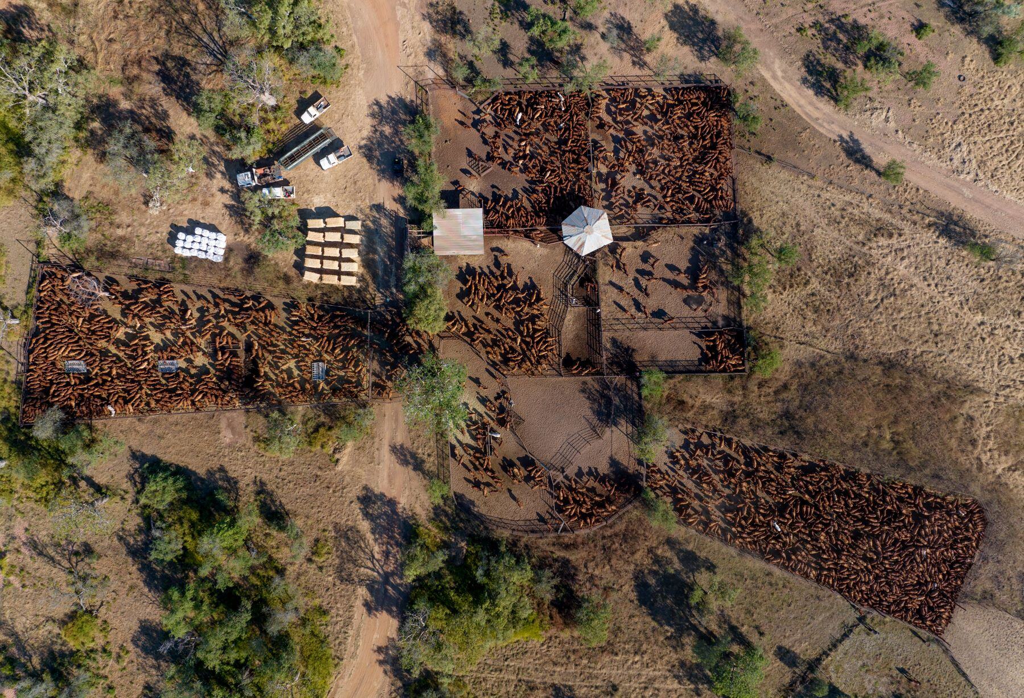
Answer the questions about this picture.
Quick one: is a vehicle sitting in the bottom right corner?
No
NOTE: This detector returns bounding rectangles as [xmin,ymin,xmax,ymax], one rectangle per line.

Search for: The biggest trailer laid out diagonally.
[277,120,343,177]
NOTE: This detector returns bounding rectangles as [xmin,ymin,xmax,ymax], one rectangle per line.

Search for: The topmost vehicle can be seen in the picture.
[300,94,332,123]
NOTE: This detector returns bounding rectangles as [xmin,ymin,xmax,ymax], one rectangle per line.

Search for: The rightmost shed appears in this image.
[561,205,613,258]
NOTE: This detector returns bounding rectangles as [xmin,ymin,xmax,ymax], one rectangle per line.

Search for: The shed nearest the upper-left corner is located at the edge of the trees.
[434,208,484,257]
